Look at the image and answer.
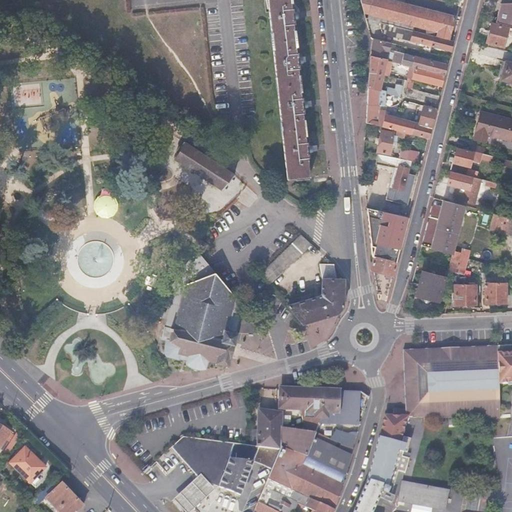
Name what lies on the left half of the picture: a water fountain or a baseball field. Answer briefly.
water fountain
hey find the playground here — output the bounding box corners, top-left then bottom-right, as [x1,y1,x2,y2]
[10,78,80,149]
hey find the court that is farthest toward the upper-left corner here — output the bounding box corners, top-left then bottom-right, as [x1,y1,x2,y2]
[16,84,43,106]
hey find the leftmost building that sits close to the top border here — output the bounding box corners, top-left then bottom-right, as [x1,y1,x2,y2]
[264,0,318,182]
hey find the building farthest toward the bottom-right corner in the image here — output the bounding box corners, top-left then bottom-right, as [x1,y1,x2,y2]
[398,480,450,512]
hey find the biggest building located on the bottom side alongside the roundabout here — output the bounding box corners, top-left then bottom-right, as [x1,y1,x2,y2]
[404,346,499,418]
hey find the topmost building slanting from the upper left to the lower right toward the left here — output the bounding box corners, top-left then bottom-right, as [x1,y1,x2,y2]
[176,142,234,190]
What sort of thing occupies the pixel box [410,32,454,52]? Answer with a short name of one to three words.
shed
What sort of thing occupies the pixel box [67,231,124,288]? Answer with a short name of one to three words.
fountain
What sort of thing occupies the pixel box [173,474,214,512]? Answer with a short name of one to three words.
building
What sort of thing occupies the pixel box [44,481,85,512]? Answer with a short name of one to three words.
house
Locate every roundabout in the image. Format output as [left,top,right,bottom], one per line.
[316,296,412,382]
